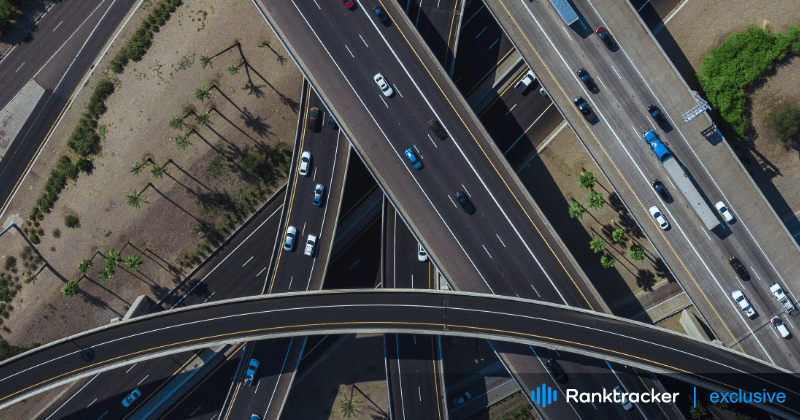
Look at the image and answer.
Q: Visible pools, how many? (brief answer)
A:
0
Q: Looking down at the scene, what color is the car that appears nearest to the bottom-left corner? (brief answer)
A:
blue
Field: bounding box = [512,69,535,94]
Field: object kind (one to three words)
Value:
truck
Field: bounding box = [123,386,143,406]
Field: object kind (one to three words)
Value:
car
